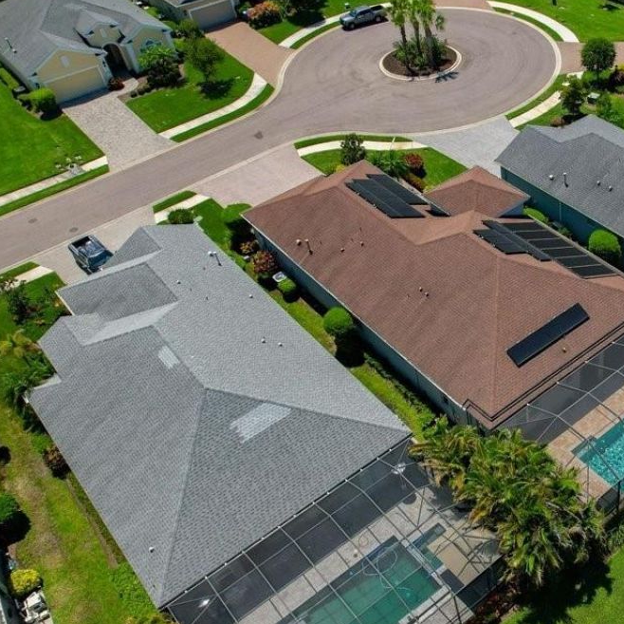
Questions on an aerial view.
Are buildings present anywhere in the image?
Yes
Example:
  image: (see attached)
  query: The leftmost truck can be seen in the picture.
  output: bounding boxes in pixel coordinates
[62,225,116,272]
